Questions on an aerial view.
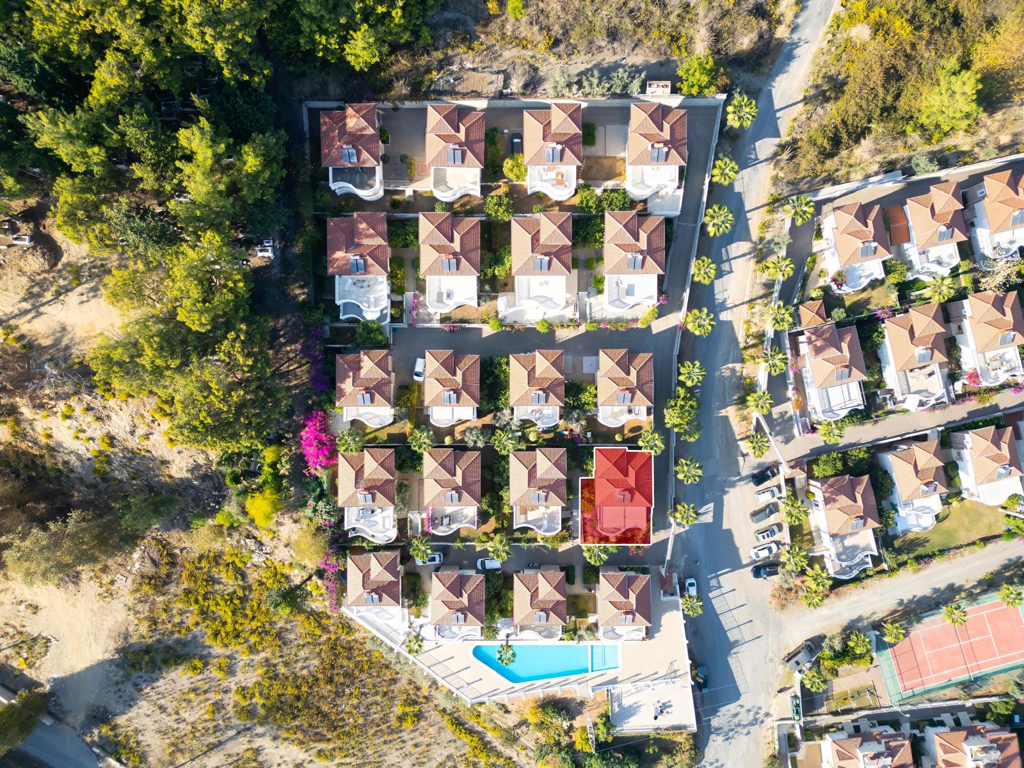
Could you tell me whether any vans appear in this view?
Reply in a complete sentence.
Yes, looking at the shot, I can spot a van.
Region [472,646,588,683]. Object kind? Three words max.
swimming pool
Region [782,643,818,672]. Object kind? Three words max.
van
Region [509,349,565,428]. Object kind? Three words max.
house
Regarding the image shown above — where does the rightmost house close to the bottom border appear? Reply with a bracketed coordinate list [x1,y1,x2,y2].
[919,707,1019,768]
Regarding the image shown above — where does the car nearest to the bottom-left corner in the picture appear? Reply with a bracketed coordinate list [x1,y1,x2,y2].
[416,550,445,567]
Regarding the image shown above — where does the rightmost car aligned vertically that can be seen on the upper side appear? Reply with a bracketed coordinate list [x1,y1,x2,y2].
[509,129,523,157]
